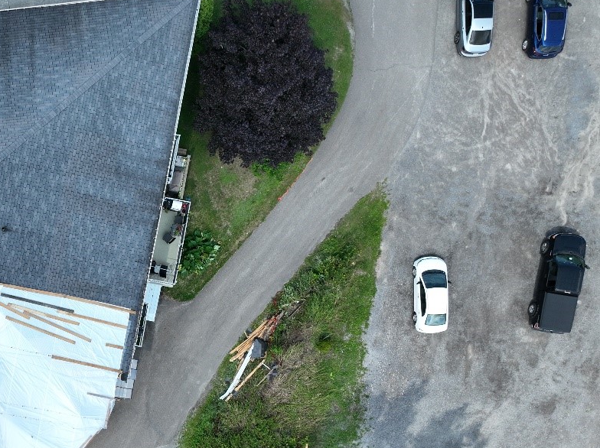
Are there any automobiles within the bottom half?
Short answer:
Yes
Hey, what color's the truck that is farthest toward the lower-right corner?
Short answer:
black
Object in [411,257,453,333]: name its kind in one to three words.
car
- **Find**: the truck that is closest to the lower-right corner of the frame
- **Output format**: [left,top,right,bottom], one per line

[533,232,590,335]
